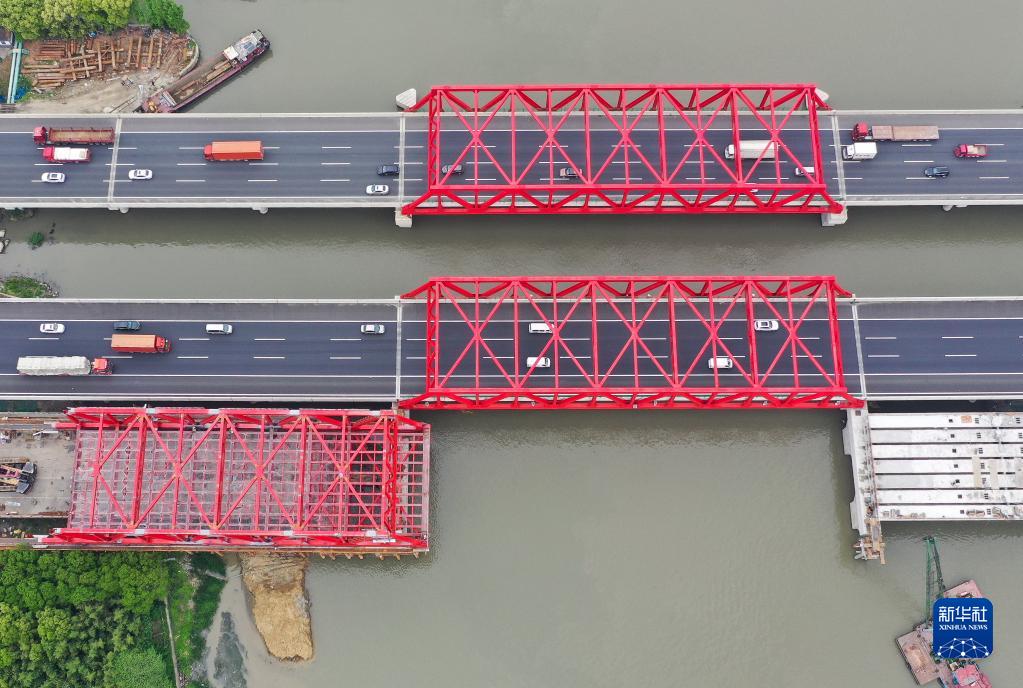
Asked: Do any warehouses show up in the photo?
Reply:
No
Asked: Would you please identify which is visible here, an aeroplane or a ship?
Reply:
ship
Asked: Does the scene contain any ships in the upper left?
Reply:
Yes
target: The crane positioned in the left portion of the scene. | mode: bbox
[0,460,37,496]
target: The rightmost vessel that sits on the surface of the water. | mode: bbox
[893,532,997,688]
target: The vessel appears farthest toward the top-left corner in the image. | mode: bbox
[132,28,272,114]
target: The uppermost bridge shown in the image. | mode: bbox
[0,84,1023,226]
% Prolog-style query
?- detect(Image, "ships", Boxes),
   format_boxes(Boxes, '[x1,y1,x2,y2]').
[132,28,272,114]
[893,532,997,688]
